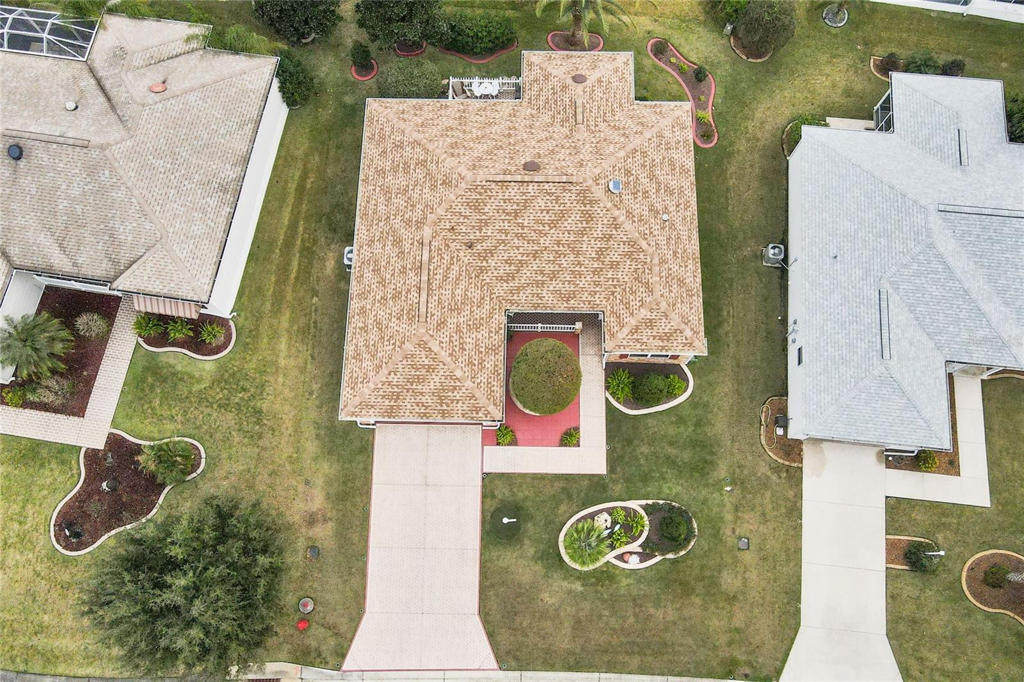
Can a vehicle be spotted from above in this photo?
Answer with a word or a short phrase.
No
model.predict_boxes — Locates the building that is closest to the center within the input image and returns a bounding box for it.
[338,50,710,430]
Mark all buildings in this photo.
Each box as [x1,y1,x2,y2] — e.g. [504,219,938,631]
[338,50,710,430]
[864,0,1024,26]
[785,69,1024,458]
[0,10,288,388]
